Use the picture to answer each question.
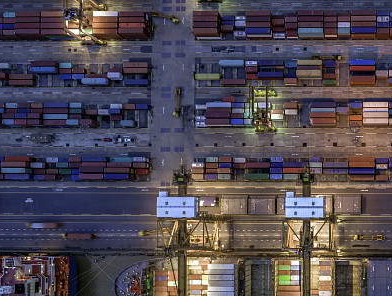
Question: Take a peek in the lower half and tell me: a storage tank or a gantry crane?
gantry crane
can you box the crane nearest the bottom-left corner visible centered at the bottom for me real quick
[155,164,226,296]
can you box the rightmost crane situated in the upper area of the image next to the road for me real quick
[248,79,279,131]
